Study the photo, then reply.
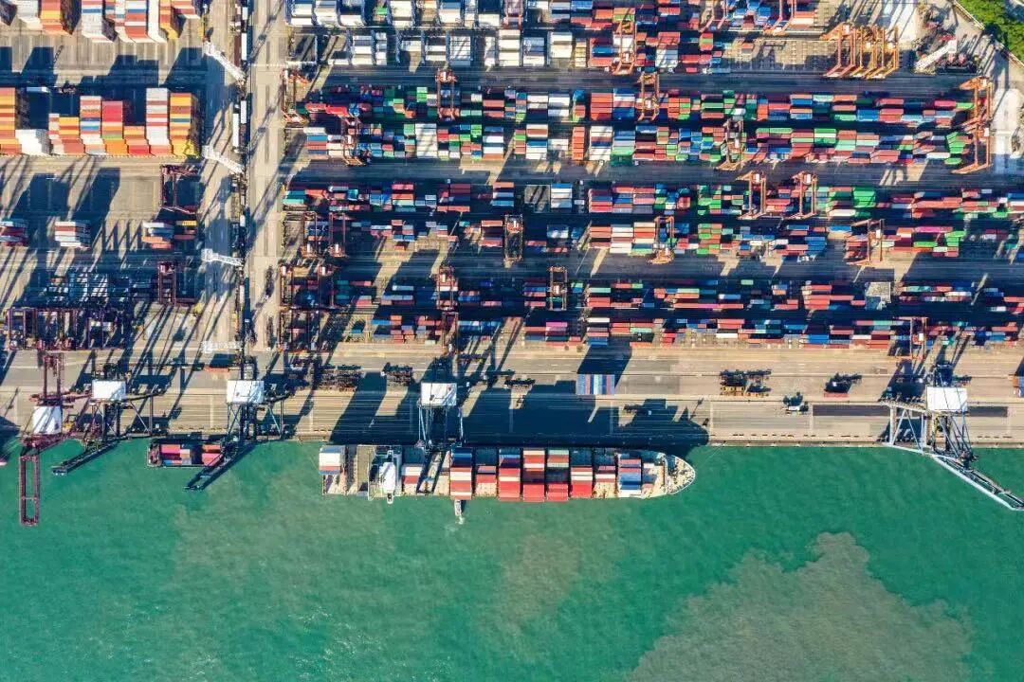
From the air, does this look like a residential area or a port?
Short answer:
port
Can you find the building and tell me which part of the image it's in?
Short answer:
right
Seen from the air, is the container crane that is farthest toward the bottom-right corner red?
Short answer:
No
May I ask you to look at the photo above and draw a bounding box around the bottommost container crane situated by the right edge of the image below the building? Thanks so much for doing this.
[868,368,1024,504]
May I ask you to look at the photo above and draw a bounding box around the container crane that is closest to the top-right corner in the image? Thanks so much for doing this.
[950,76,991,132]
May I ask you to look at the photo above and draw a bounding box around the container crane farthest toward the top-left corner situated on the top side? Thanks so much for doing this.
[160,164,195,217]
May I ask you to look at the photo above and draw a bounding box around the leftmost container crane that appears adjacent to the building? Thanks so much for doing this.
[849,216,885,271]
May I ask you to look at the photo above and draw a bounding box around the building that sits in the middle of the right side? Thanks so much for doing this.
[861,284,889,309]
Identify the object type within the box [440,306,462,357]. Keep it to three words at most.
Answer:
container crane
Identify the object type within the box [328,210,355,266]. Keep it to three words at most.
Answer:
container crane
